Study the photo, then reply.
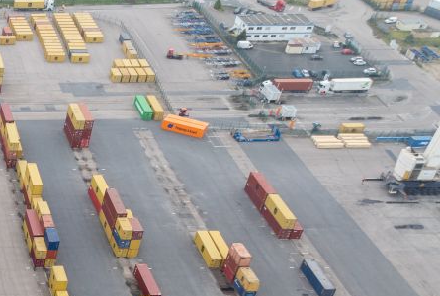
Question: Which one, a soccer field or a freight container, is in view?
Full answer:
Visible in the photo is a freight container.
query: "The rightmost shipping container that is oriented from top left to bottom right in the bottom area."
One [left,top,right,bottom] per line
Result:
[300,259,336,296]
